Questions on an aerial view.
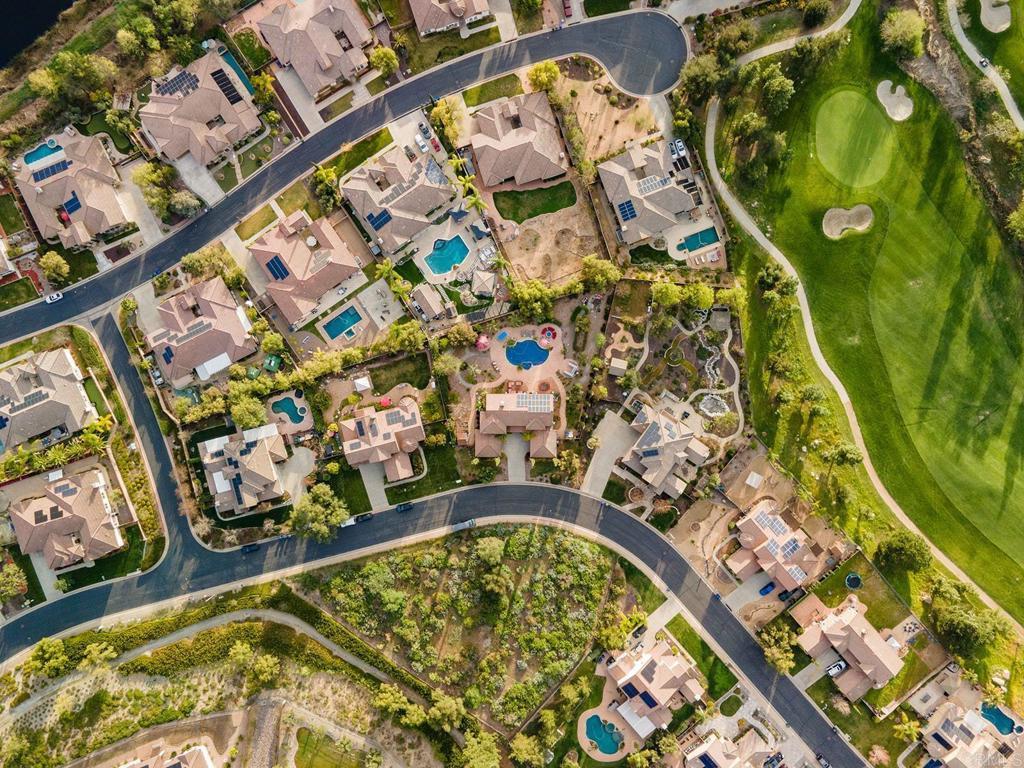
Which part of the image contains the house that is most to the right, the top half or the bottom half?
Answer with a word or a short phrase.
bottom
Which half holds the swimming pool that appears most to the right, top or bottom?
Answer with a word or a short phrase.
bottom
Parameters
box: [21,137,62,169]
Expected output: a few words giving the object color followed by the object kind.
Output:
blue swimming pool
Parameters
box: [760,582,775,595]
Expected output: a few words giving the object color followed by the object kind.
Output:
blue vehicle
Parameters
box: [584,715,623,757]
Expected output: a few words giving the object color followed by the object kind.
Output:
blue swimming pool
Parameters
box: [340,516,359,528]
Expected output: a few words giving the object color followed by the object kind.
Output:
white vehicle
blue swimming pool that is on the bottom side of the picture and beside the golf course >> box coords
[981,702,1024,737]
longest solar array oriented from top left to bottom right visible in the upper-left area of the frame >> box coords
[211,71,240,103]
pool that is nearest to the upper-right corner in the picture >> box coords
[676,225,721,253]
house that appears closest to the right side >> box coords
[916,698,1023,768]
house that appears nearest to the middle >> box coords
[475,394,557,457]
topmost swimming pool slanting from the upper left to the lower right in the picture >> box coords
[216,44,253,96]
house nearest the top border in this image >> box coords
[409,0,489,37]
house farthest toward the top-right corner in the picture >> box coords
[595,140,696,245]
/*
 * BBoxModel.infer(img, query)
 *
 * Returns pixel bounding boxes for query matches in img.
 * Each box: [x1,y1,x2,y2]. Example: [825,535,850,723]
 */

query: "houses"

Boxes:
[14,134,133,247]
[621,404,711,502]
[725,500,824,597]
[409,0,489,37]
[247,210,359,324]
[595,140,696,245]
[687,724,775,768]
[475,394,557,457]
[126,739,218,768]
[470,92,567,187]
[340,395,425,479]
[9,469,127,572]
[137,52,263,169]
[608,636,706,739]
[0,348,103,470]
[146,277,258,383]
[198,423,288,514]
[794,605,906,704]
[256,0,374,103]
[340,138,455,255]
[412,283,456,320]
[916,698,1023,768]
[609,358,627,377]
